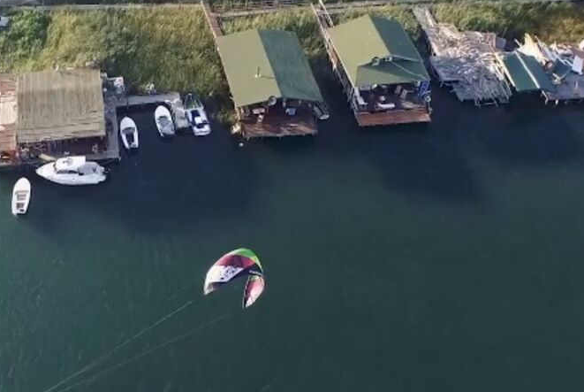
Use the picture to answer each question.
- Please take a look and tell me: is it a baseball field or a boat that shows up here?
boat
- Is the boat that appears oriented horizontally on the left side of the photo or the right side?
left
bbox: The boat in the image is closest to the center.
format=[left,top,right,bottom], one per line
[315,101,331,119]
